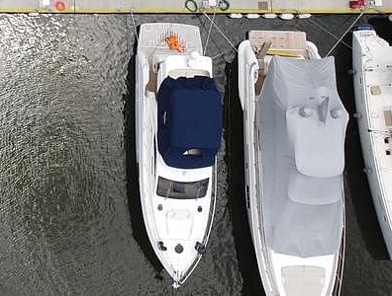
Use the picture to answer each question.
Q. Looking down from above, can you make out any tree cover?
No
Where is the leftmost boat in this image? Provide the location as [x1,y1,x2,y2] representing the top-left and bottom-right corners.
[130,25,223,293]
